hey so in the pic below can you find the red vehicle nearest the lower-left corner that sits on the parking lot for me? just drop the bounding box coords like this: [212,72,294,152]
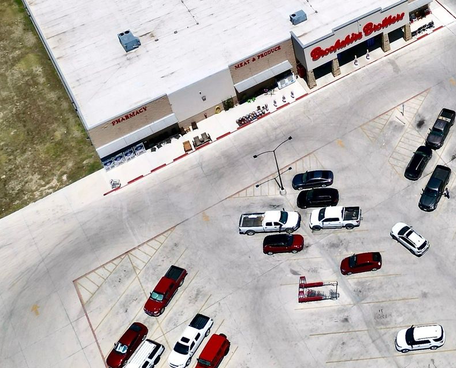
[106,323,151,368]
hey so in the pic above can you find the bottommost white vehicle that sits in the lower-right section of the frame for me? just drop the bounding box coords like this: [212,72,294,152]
[394,324,447,356]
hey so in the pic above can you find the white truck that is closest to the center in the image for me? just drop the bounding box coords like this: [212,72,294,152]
[236,208,301,238]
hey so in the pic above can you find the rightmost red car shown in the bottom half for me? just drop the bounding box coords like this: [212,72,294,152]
[340,251,385,279]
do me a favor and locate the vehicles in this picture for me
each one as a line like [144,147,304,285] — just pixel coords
[168,313,214,368]
[420,166,450,212]
[236,208,301,238]
[146,266,187,319]
[195,334,229,368]
[106,323,151,368]
[125,338,164,368]
[404,147,431,183]
[428,109,455,150]
[394,324,447,356]
[308,207,361,233]
[296,186,341,212]
[340,251,385,279]
[261,233,306,259]
[392,225,430,259]
[292,172,334,193]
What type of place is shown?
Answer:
parking lot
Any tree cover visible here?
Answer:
No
